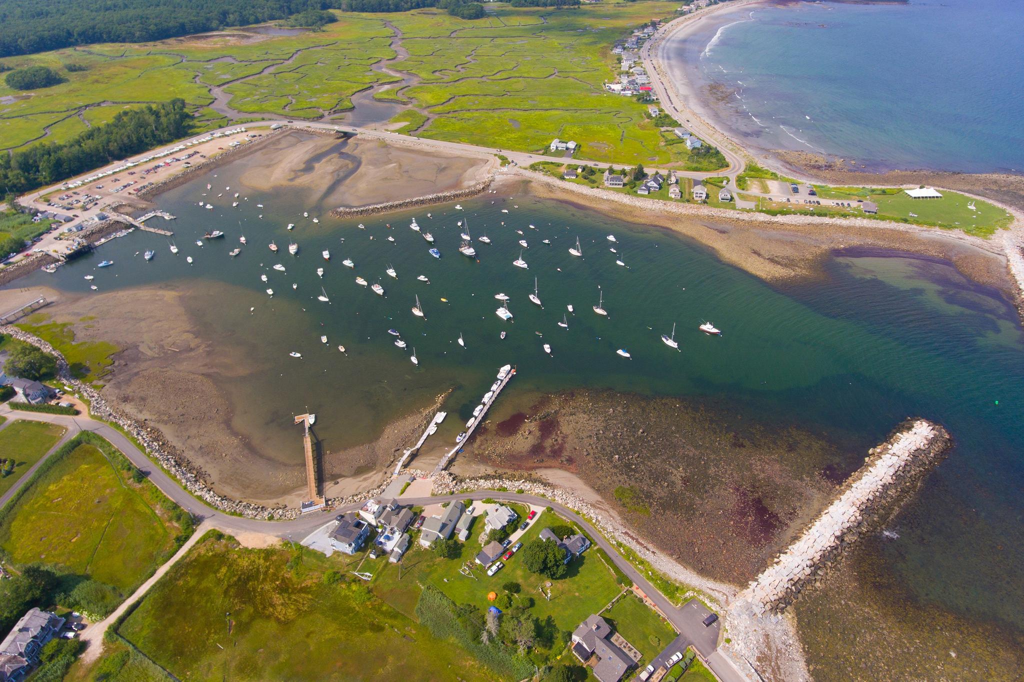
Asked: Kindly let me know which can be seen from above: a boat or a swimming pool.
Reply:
boat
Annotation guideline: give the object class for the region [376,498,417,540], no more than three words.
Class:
house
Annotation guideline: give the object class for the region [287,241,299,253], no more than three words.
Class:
boat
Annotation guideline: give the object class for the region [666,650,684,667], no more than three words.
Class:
vehicle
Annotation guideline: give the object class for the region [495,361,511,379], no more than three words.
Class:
boat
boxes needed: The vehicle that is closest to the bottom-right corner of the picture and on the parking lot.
[703,610,719,625]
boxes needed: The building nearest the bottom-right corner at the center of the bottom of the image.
[570,614,639,682]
